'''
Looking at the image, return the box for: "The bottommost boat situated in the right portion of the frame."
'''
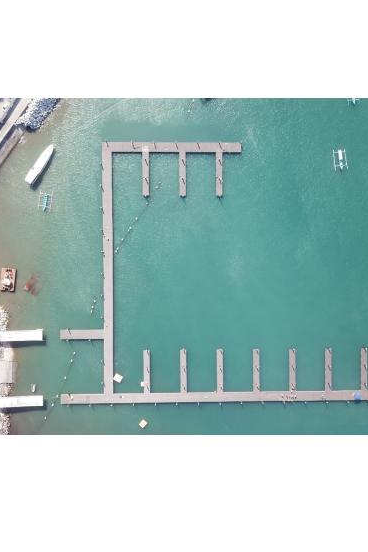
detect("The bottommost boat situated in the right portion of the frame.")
[333,149,348,171]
